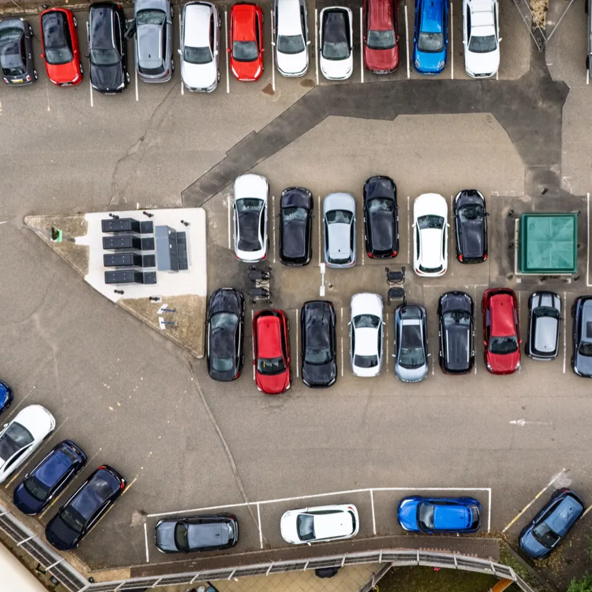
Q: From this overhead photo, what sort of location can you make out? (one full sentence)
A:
The area seen from above is a parking lot.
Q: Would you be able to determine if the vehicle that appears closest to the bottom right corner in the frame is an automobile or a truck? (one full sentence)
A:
The vehicle that appears closest to the bottom right corner is an automobile.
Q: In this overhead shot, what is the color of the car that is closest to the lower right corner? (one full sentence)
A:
The car that is closest to the lower right corner is blue.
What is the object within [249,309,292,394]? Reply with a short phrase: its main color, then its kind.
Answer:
red car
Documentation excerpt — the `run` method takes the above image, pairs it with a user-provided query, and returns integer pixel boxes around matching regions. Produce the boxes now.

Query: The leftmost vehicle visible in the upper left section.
[0,21,37,88]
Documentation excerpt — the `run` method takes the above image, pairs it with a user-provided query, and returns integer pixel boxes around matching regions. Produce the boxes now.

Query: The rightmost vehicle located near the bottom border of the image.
[517,483,588,563]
